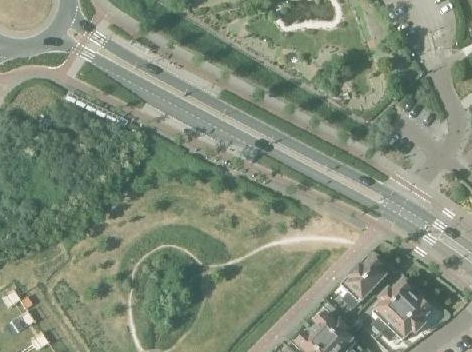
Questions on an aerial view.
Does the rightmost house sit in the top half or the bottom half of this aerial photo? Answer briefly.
bottom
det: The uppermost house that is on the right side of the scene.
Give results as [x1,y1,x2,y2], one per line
[334,253,391,301]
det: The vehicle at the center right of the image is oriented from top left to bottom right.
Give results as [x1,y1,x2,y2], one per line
[358,174,374,187]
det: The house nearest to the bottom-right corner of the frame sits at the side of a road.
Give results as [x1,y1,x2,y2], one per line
[369,279,431,340]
